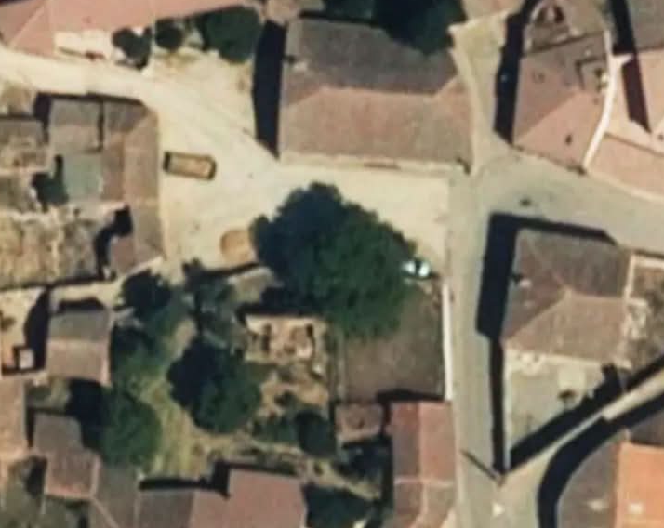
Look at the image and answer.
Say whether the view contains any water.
No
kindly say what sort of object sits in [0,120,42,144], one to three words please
shed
